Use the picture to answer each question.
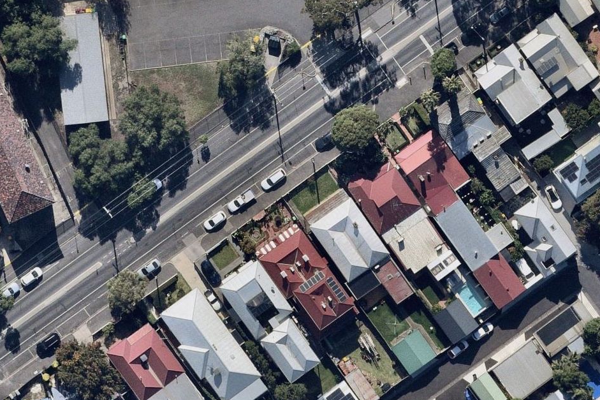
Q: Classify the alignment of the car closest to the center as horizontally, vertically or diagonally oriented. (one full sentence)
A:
The car closest to the center runs diagonally in the image.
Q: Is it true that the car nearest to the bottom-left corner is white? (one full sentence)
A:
No, the car nearest to the bottom-left corner is actually black.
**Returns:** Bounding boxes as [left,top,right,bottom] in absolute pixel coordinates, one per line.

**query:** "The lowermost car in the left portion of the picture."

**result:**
[36,334,61,356]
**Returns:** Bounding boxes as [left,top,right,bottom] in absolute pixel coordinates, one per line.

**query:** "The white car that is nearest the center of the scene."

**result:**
[261,168,286,189]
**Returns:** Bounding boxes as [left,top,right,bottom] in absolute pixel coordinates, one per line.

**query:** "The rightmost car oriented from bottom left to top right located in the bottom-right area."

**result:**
[470,321,495,343]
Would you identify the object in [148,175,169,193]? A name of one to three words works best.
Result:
car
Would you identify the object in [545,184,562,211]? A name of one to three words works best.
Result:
car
